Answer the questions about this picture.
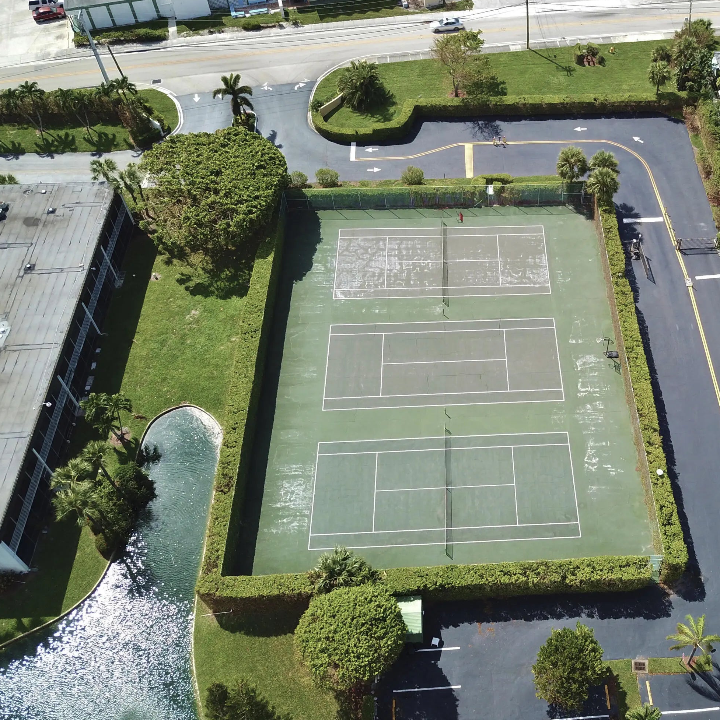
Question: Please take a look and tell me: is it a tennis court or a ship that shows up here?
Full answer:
The image shows a tennis court.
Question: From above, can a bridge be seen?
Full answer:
No, there isn't any bridge down there.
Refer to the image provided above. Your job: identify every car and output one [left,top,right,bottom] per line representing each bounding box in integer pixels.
[431,18,463,35]
[31,5,64,22]
[26,0,62,11]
